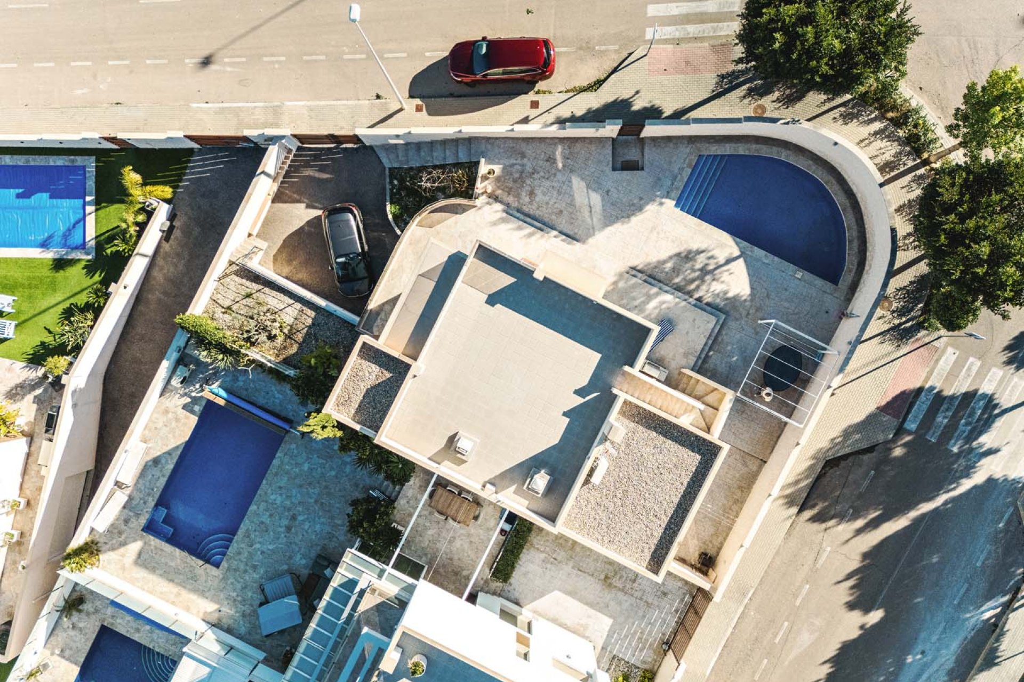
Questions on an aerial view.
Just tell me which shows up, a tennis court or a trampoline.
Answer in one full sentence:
There is a trampoline in the scene.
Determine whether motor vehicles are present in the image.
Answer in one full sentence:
Yes, this view includes a motor vehicle.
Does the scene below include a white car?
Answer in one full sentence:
No, I can see no white car in this picture.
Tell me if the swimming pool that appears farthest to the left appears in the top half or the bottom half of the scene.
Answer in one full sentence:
Seen from above, the swimming pool that appears farthest to the left lies in the top half of the view.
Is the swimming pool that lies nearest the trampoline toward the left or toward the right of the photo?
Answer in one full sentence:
You can find the swimming pool that lies nearest the trampoline on the right side of the picture.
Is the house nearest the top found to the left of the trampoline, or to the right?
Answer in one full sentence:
Looking at the photo, the house nearest the top lies to the left of the trampoline.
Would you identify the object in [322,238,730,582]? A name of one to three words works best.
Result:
house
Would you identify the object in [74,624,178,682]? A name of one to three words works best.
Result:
swimming pool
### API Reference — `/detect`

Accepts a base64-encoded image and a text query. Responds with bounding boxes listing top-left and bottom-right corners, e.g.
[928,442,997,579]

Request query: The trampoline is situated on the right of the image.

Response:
[763,345,805,393]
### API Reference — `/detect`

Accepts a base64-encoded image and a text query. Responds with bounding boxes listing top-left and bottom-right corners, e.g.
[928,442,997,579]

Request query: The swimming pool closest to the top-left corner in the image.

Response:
[0,164,85,249]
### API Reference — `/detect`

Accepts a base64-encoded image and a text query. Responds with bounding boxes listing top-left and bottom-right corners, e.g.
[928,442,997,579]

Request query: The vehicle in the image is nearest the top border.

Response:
[448,29,556,86]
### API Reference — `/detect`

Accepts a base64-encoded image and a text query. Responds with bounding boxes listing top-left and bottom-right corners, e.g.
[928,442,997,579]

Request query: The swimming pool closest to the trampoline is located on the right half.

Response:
[675,154,846,285]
